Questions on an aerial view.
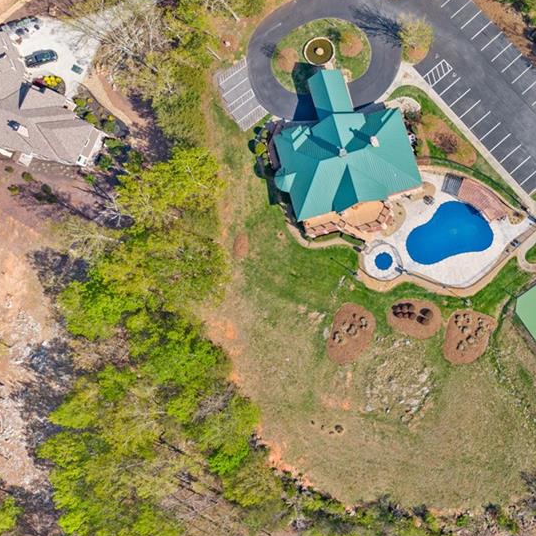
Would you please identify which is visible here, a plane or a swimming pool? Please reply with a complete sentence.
Looking from above, you can make out a swimming pool.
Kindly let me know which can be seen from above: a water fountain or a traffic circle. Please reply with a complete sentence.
Looking from above, you can make out a water fountain.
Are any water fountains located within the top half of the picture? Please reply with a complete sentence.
Yes, a water fountain shows up within the top half of the picture.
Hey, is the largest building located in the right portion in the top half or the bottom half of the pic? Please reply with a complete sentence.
The largest building located in the right portion sits in the top half of the picture.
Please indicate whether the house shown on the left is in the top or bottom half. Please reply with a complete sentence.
The top half of the photo is where the house shown on the left is.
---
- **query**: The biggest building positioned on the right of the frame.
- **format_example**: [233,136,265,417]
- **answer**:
[274,70,422,220]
